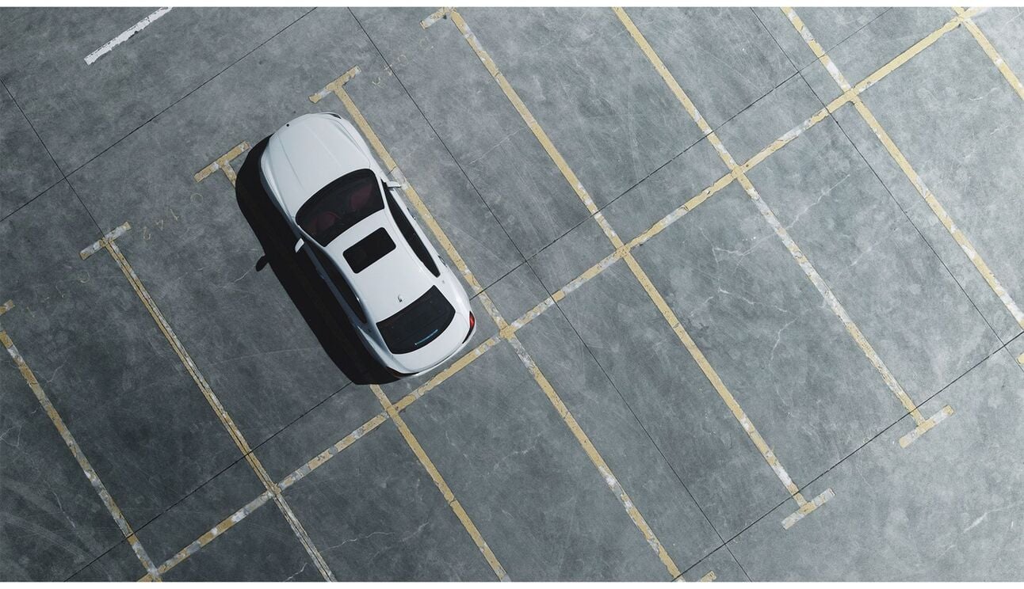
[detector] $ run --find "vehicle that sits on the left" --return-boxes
[259,109,476,377]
